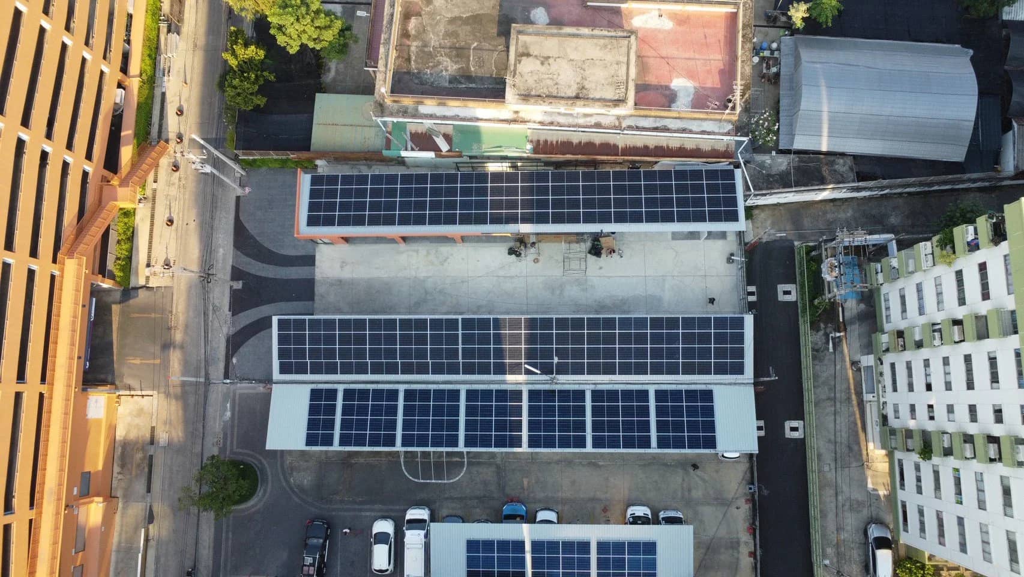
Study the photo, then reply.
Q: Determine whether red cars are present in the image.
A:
No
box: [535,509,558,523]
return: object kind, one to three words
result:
car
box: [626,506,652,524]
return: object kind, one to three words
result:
vehicle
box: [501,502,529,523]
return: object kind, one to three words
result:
car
